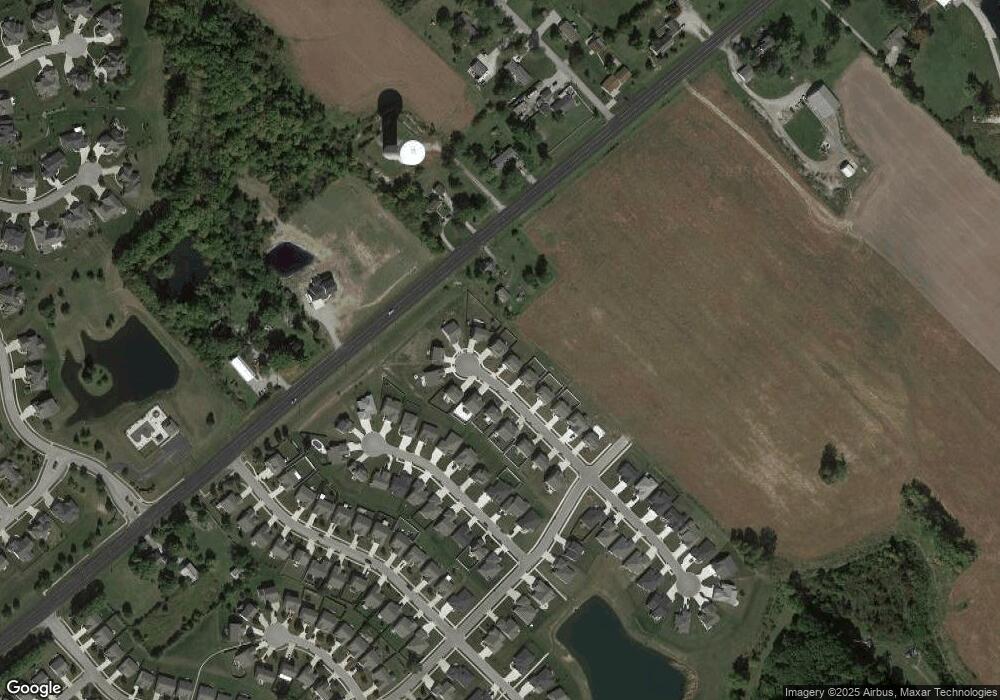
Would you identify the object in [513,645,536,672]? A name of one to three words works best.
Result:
house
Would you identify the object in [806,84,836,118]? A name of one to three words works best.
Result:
barn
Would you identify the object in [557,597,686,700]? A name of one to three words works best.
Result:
pond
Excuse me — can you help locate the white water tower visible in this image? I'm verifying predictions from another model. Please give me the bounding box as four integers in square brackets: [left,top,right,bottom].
[383,137,425,164]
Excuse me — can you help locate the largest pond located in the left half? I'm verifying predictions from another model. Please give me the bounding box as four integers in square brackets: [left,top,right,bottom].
[62,315,179,425]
